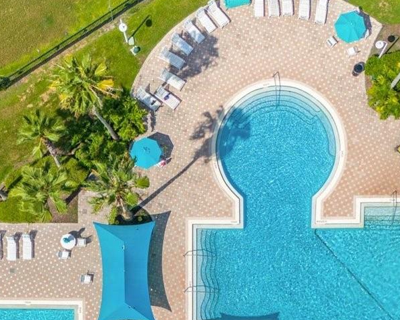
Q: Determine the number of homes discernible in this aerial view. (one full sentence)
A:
No homes are visible.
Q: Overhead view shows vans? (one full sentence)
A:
No, there's no van here.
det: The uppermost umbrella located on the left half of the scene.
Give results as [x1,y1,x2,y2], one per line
[131,137,163,169]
